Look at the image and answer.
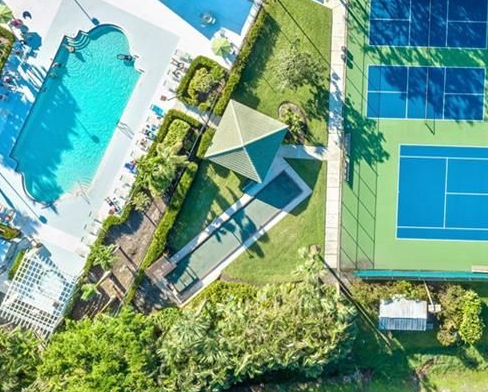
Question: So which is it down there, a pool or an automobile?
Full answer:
The image shows a pool.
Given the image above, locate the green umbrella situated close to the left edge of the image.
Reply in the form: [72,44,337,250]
[0,2,16,25]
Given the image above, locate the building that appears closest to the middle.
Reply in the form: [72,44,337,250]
[204,98,289,183]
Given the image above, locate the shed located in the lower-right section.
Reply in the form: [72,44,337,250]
[379,295,427,330]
